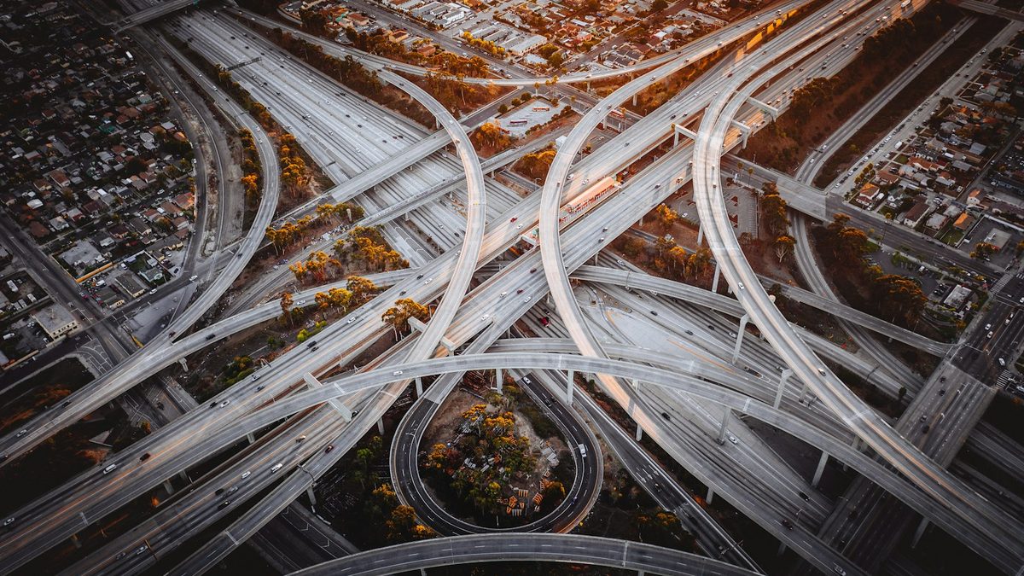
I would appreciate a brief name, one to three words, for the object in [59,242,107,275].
building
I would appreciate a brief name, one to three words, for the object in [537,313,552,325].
vehicle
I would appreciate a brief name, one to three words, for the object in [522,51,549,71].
building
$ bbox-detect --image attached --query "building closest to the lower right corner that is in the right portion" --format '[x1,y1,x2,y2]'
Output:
[943,283,977,312]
